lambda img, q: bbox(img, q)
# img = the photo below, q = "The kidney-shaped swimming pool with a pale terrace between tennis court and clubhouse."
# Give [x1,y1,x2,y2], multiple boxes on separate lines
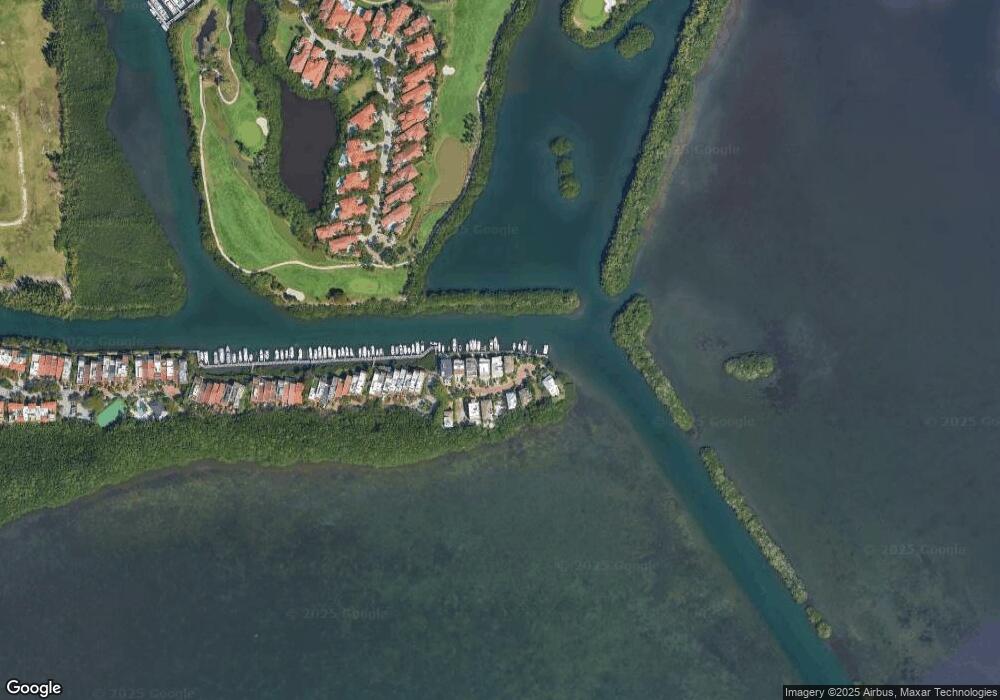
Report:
[131,397,150,417]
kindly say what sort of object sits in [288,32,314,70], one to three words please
house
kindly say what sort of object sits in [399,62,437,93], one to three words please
house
